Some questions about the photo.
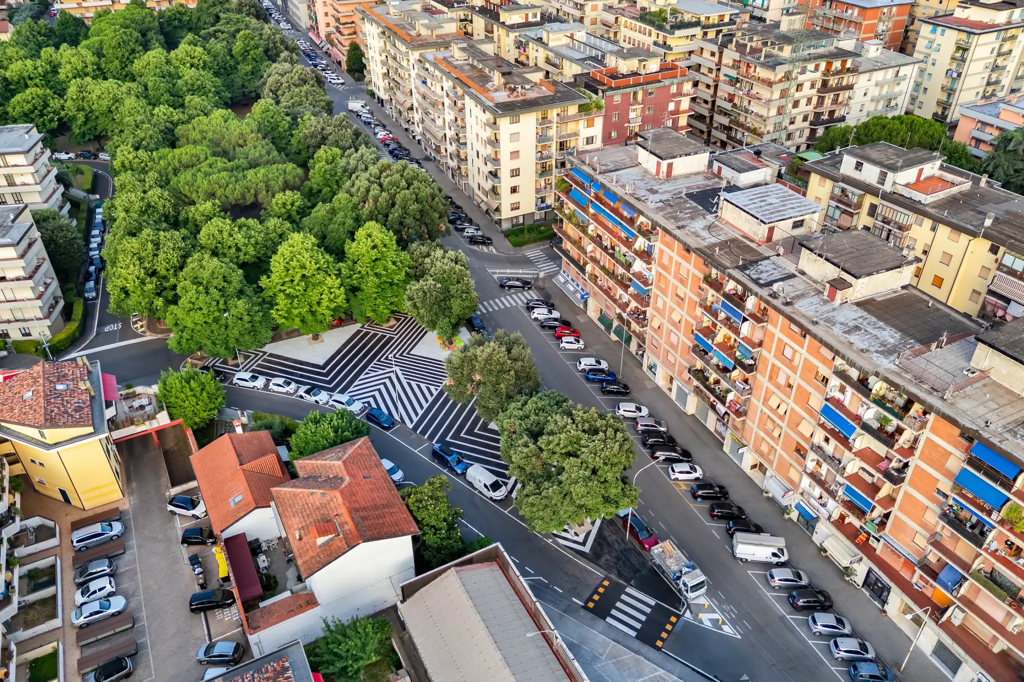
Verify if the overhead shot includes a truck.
Yes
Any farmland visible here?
No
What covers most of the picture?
buildings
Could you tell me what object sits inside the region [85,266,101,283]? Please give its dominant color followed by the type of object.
black car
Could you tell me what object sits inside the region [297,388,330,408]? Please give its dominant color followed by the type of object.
white car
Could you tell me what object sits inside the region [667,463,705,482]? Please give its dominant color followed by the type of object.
white car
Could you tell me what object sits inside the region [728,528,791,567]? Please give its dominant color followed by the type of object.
white van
